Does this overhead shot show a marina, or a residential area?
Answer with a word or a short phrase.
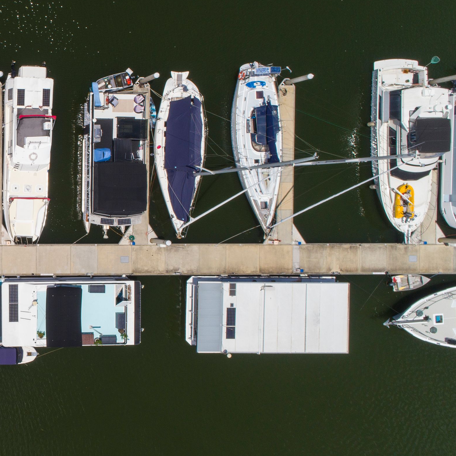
marina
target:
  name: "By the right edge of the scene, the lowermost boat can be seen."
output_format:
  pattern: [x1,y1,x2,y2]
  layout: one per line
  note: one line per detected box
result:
[383,287,456,347]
